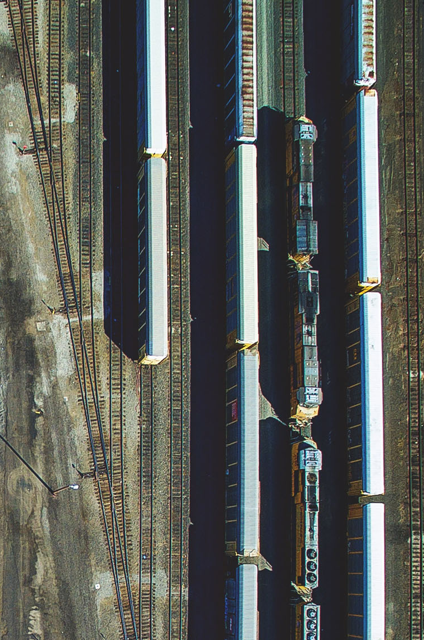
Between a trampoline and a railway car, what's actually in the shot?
railway car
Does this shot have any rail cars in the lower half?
Yes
